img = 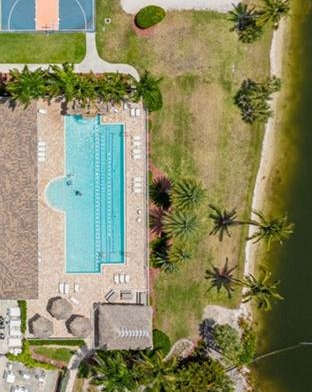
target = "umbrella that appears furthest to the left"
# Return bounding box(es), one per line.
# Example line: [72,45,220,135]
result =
[29,315,54,339]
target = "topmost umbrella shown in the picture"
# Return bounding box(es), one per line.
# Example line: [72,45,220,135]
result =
[49,297,73,321]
